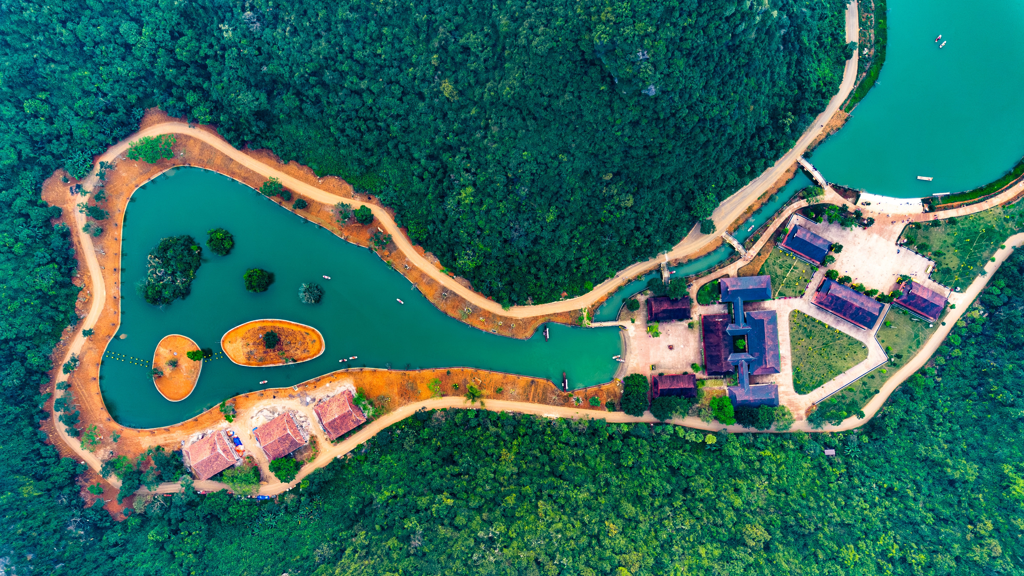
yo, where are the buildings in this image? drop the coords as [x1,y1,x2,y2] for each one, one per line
[647,296,691,321]
[781,224,833,264]
[728,385,780,410]
[893,283,948,320]
[702,313,735,377]
[184,428,242,480]
[653,375,696,398]
[719,275,772,302]
[313,389,366,441]
[811,276,884,330]
[253,410,311,463]
[744,310,780,375]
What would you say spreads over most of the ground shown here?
trees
